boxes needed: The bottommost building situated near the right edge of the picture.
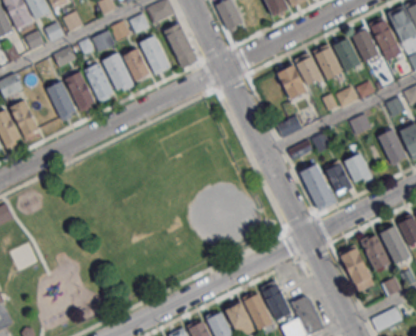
[371,306,402,332]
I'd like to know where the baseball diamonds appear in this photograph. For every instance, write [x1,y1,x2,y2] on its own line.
[186,180,263,250]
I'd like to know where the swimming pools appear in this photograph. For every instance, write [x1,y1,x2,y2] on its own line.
[23,73,38,88]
